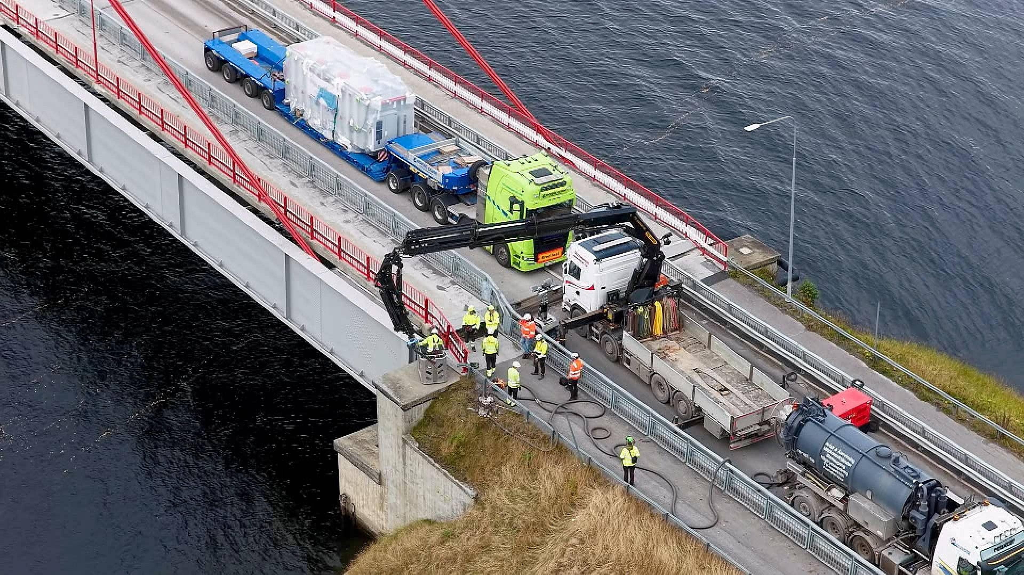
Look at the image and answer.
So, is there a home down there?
No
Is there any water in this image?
Yes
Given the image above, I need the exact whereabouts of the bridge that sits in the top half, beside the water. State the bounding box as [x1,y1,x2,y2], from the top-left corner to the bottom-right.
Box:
[0,0,706,398]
